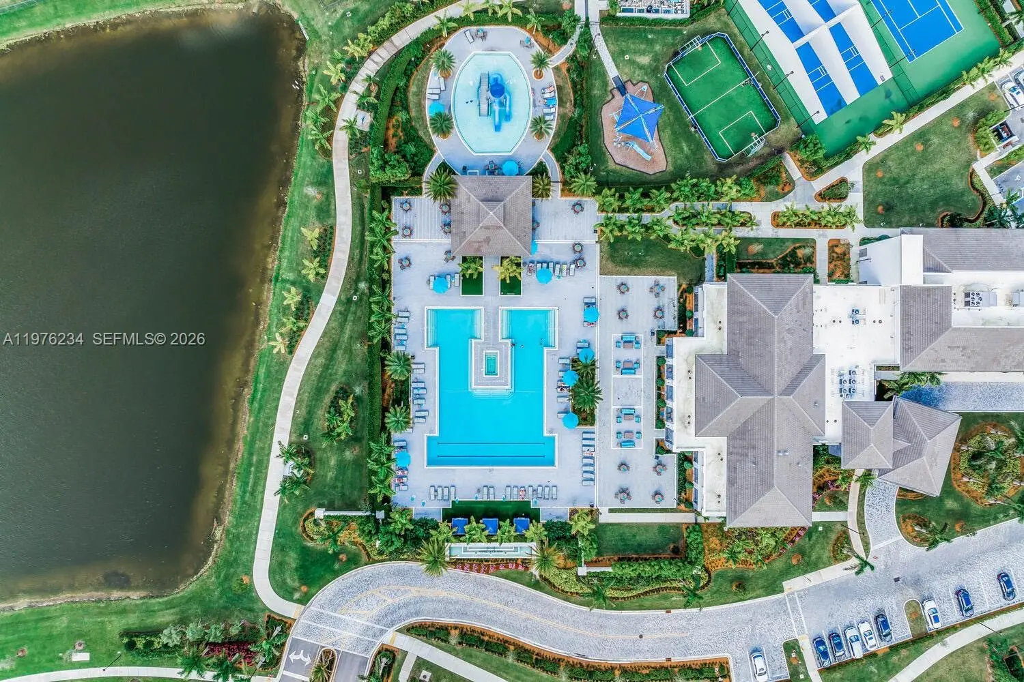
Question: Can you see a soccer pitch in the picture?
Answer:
Yes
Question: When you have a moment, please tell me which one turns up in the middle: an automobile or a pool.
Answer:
pool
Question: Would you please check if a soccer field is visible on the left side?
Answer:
No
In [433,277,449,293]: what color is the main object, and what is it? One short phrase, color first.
blue umbrella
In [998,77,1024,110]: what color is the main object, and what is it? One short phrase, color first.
white car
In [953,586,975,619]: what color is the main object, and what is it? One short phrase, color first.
blue car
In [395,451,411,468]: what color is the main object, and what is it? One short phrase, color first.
blue umbrella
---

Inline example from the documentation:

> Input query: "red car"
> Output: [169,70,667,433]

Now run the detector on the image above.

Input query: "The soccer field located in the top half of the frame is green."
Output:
[664,27,785,161]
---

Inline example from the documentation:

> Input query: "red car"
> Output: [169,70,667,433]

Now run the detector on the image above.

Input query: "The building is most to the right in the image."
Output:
[863,228,1024,374]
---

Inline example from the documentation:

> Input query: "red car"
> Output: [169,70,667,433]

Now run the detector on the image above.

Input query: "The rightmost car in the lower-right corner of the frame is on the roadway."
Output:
[995,570,1017,603]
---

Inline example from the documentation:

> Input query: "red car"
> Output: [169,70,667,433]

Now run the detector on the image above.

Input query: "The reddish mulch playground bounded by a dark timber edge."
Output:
[600,75,667,175]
